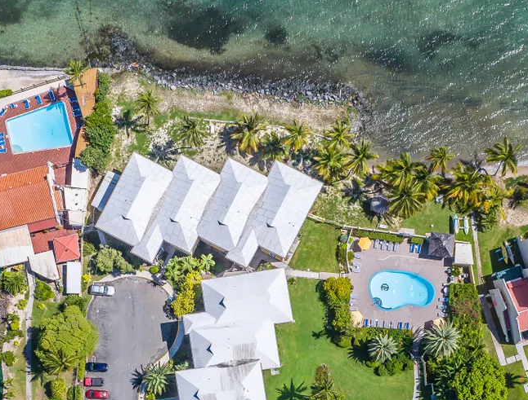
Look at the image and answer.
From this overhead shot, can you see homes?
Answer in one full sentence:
Yes, I can see a home in this picture.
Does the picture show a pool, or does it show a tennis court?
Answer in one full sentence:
There is a pool in the scene.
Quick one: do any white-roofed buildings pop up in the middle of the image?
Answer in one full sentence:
Yes, a white-roofed building can be seen in the middle of the image.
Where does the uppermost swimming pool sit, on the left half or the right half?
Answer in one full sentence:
You can find the uppermost swimming pool on the left side of the picture.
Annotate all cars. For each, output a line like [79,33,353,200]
[86,390,108,399]
[85,362,108,372]
[82,376,108,387]
[89,284,116,294]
